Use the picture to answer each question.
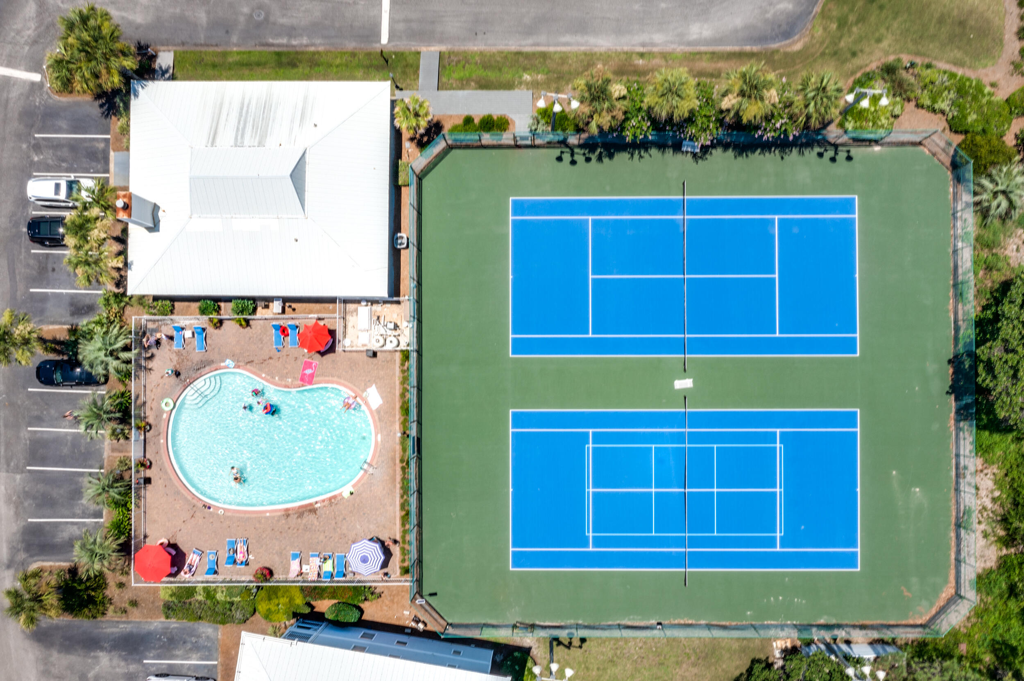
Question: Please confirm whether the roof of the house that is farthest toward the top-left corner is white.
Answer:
Yes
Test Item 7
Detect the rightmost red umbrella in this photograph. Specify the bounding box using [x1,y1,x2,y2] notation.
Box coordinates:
[298,319,331,353]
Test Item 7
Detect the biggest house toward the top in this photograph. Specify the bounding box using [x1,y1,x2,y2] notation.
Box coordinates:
[115,80,394,298]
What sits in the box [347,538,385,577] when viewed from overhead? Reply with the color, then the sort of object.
white umbrella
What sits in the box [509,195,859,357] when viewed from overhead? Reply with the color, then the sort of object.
blue tennis court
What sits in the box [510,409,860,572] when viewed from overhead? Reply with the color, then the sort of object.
blue tennis court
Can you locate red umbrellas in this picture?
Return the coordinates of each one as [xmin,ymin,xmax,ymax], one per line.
[298,319,331,353]
[136,547,172,581]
